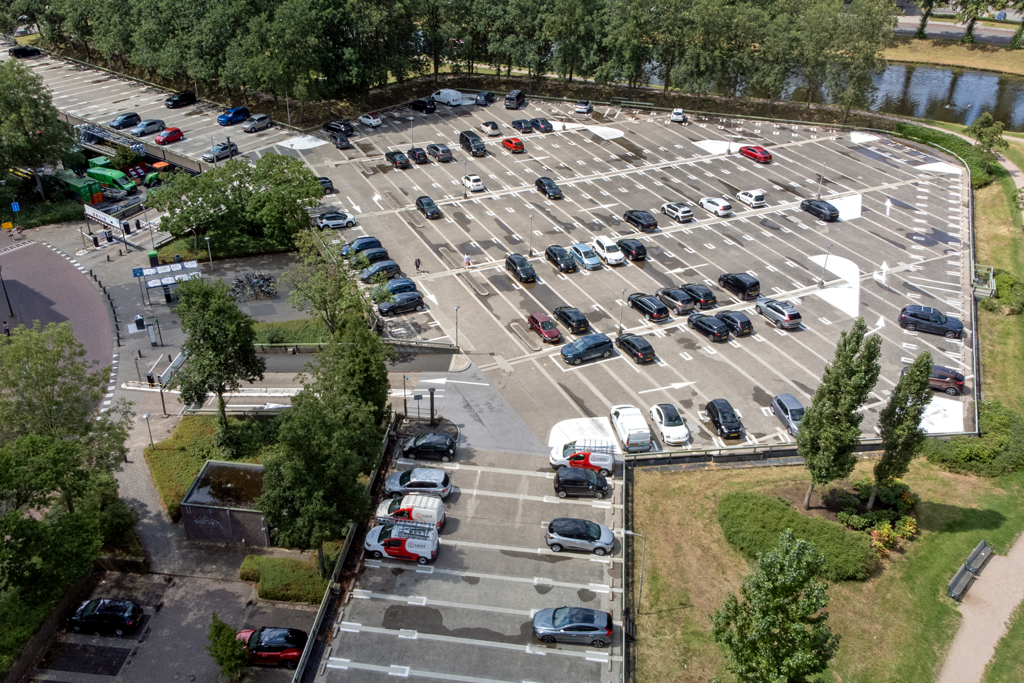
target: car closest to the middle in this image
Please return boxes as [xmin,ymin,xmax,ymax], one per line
[526,311,563,344]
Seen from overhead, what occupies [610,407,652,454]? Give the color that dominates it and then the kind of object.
white van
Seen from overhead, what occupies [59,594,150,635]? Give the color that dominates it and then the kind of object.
black car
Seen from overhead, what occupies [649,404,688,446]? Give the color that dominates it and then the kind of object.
white car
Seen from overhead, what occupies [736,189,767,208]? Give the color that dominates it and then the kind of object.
white car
